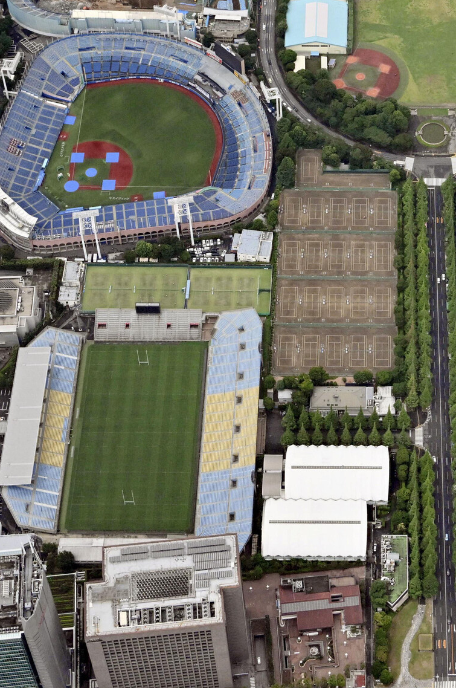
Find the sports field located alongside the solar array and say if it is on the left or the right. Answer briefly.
left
